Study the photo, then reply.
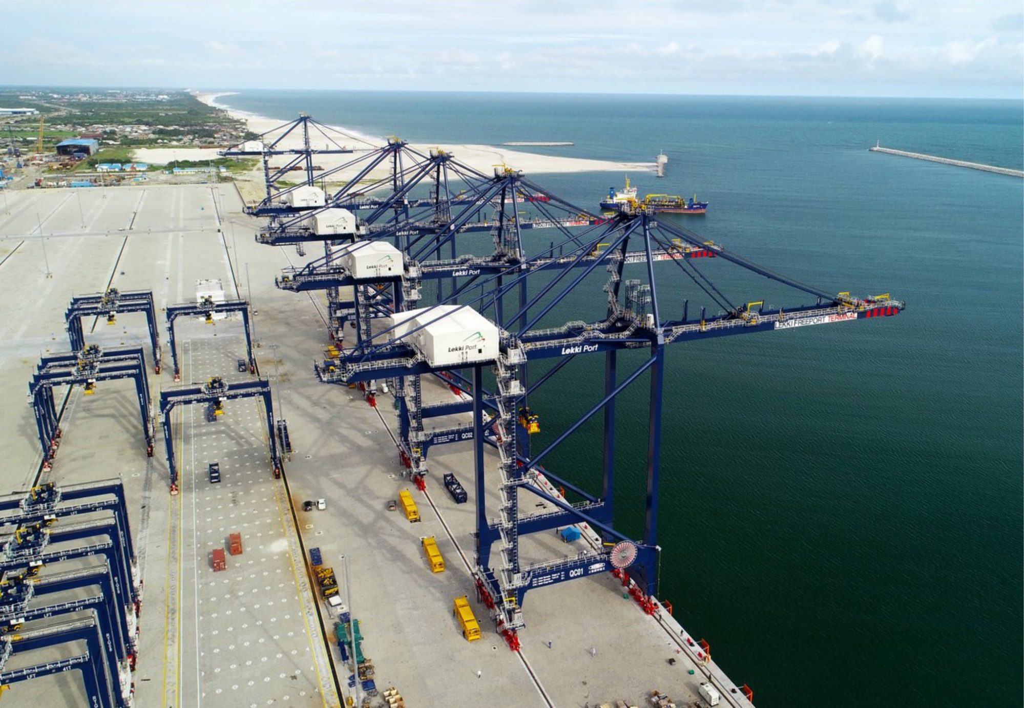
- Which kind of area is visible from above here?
port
